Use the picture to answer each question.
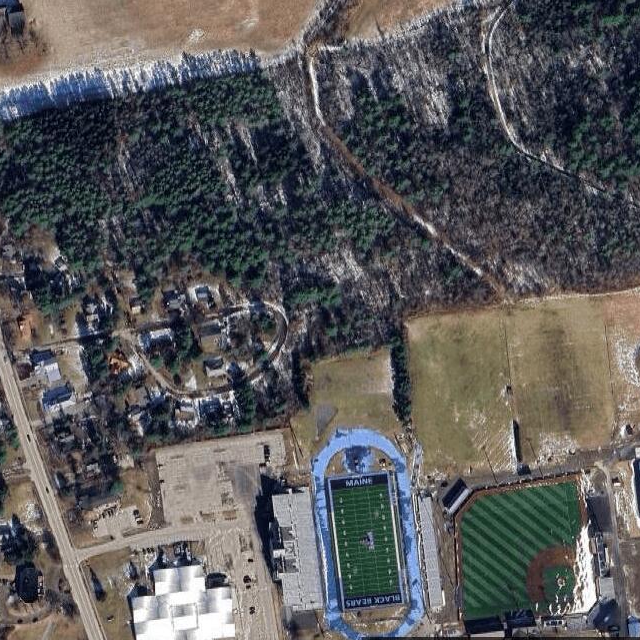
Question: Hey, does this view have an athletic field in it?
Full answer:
Yes, the frame does contain an athletic field.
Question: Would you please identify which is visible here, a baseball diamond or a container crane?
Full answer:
The image shows a baseball diamond.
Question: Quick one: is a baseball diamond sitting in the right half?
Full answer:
Yes, there is a baseball diamond in the right half.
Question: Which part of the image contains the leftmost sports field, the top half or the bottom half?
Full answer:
It is in the bottom half that the leftmost sports field appears.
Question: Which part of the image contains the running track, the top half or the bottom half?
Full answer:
You can find the running track in the bottom half.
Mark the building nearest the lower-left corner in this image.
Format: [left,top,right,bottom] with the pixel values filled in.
[15,562,42,605]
